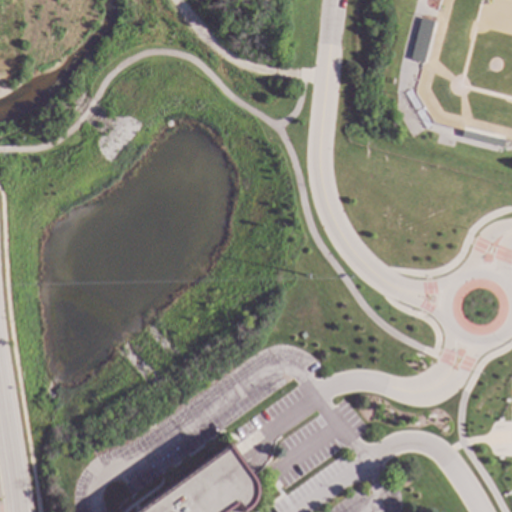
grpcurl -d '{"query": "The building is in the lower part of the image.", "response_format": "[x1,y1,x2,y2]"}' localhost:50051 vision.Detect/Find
[136,445,262,512]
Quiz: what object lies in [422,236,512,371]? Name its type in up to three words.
roundabout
